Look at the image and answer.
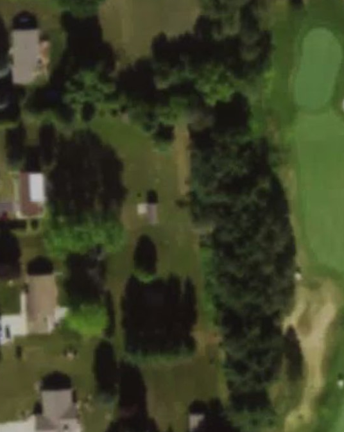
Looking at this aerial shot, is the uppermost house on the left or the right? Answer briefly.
left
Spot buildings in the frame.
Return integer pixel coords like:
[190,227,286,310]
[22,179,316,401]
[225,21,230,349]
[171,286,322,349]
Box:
[11,27,49,83]
[26,274,55,331]
[19,171,44,214]
[34,390,80,432]
[189,413,205,431]
[138,202,156,224]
